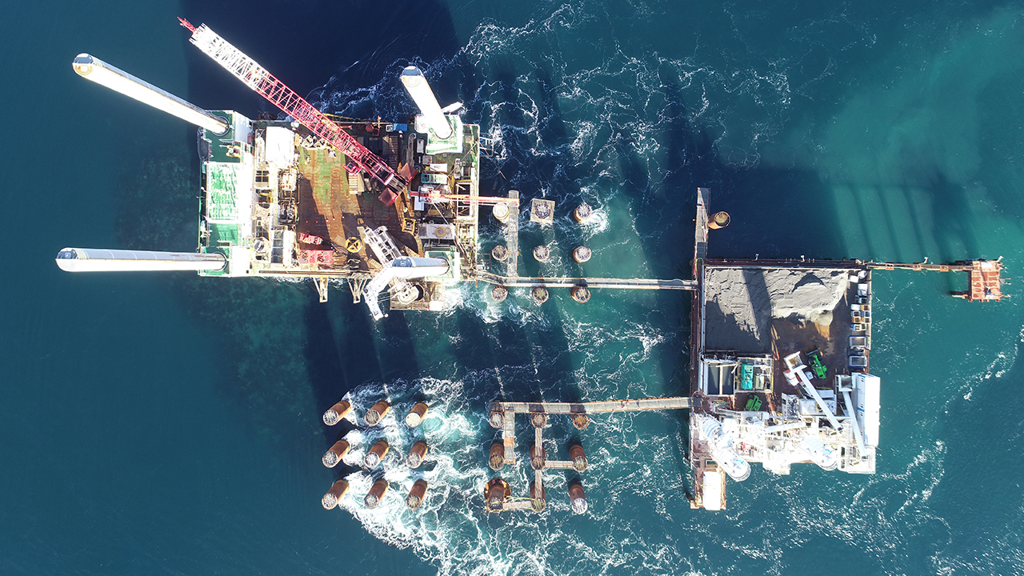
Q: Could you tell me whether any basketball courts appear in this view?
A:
No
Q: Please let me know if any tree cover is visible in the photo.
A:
No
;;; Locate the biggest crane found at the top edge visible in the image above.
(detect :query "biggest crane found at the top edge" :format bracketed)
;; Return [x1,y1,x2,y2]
[178,16,424,212]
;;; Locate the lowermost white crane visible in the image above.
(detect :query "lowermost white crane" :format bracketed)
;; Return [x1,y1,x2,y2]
[361,221,401,321]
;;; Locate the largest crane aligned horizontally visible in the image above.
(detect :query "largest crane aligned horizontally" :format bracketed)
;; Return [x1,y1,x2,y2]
[408,185,524,224]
